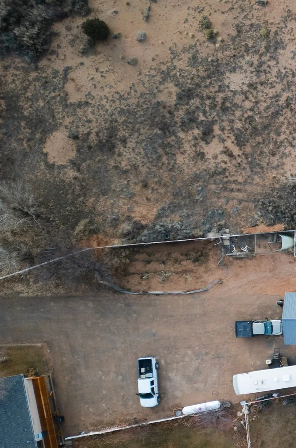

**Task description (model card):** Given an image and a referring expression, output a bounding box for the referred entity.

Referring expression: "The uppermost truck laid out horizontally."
[236,317,284,339]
